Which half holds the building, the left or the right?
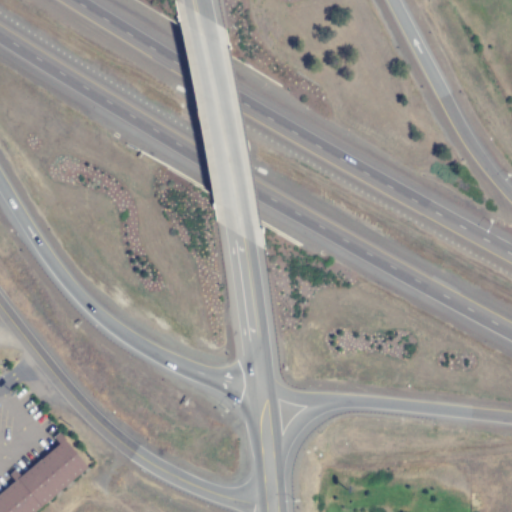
left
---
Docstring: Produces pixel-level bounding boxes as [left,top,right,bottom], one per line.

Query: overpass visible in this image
[180,1,266,248]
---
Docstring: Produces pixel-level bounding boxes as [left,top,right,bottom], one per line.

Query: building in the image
[0,435,87,512]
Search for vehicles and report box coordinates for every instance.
[0,476,8,487]
[86,302,96,313]
[30,448,40,458]
[46,436,55,446]
[248,363,254,375]
[26,451,35,462]
[34,236,42,247]
[37,414,48,424]
[2,470,11,481]
[46,424,58,435]
[228,394,240,403]
[16,389,28,400]
[28,406,39,416]
[21,454,31,466]
[256,166,269,176]
[24,402,34,410]
[16,458,27,470]
[32,412,44,421]
[166,361,178,370]
[38,438,50,451]
[8,465,16,474]
[174,85,186,94]
[6,429,11,440]
[8,198,18,210]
